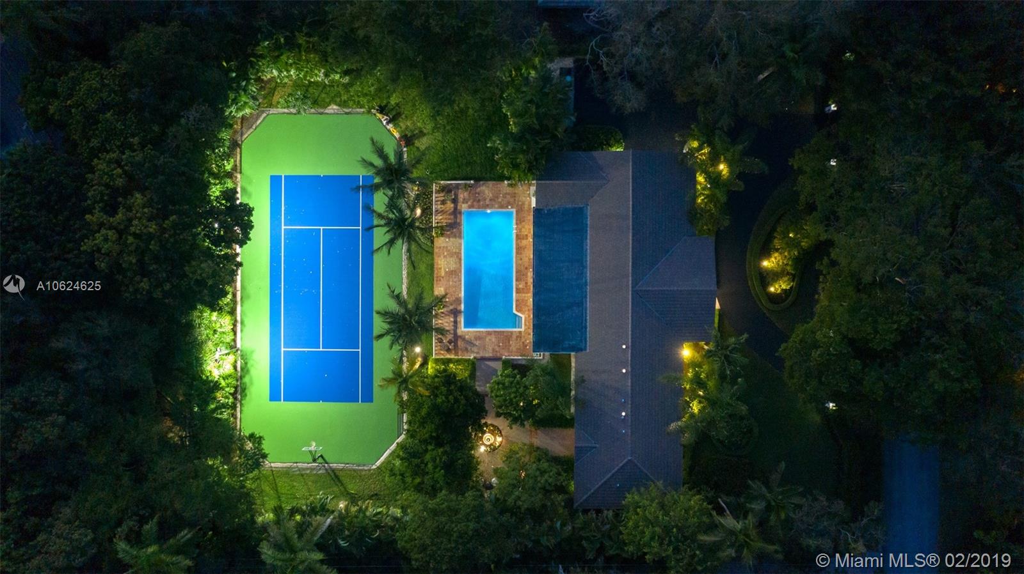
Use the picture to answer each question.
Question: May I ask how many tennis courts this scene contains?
1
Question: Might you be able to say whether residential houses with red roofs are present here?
No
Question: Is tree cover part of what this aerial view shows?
Yes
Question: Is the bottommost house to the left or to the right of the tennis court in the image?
on its right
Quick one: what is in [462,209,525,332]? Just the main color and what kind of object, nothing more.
blue swimming pool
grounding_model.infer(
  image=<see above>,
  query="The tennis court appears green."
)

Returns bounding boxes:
[235,108,408,471]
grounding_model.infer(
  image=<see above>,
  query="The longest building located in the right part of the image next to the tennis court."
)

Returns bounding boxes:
[535,149,719,510]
